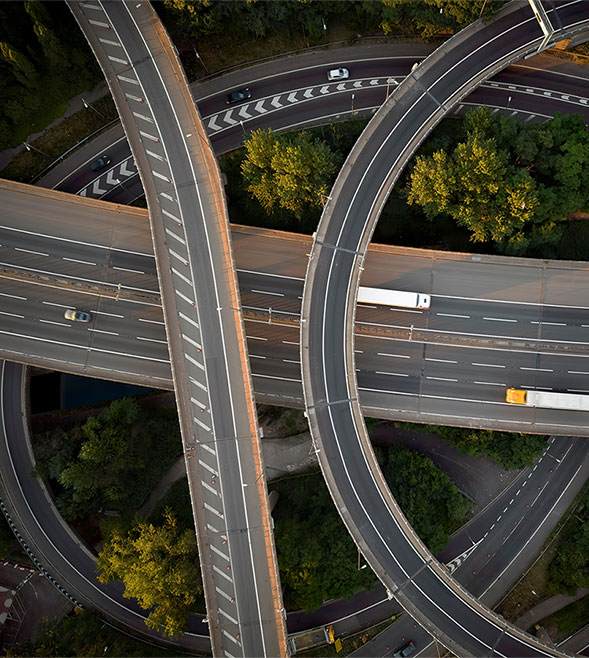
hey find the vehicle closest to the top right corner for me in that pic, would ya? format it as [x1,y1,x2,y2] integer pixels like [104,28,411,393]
[327,69,349,82]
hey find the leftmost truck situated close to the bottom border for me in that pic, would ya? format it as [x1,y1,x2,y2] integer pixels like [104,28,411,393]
[293,624,336,650]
